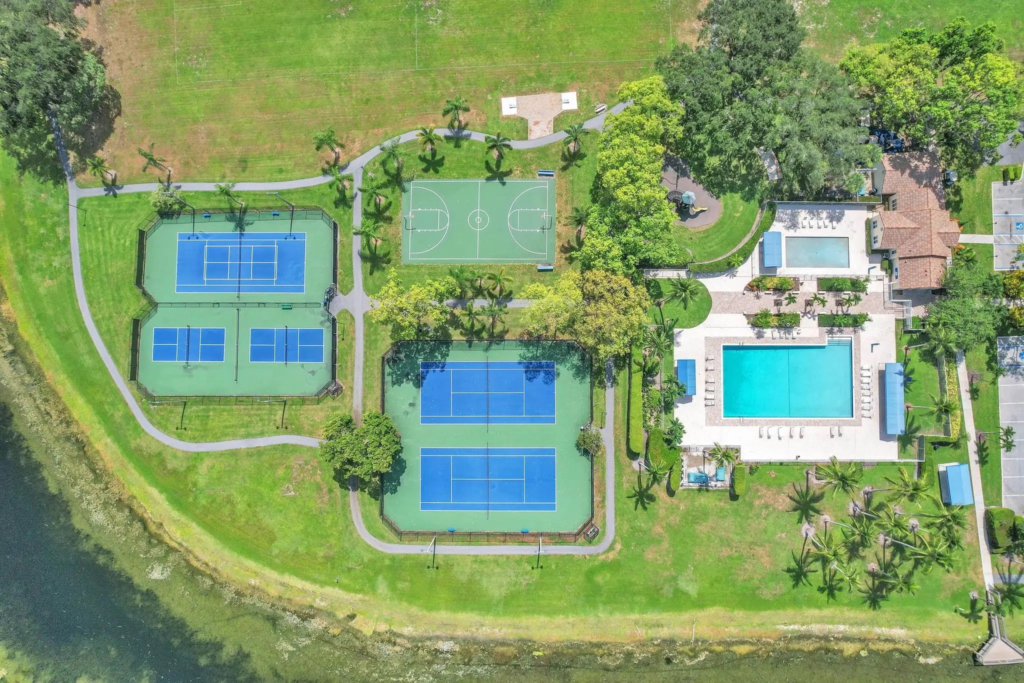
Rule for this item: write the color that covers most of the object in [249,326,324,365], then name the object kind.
blue sports court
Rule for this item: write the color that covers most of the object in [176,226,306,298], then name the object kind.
blue tennis court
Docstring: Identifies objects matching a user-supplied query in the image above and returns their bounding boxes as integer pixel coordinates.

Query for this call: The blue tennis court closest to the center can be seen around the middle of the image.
[420,356,556,430]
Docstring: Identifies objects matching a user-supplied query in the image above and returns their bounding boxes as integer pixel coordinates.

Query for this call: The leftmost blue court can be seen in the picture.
[152,325,225,364]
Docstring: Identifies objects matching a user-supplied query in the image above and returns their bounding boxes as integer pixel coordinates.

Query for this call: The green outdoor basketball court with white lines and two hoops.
[402,179,556,265]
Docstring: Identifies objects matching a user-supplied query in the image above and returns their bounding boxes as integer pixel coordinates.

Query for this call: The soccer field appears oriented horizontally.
[170,0,673,84]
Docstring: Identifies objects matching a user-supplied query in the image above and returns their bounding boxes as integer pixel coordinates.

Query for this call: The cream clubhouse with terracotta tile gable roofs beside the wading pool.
[873,152,963,290]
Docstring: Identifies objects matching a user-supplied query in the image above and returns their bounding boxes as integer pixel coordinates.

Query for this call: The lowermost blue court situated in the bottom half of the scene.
[420,442,556,518]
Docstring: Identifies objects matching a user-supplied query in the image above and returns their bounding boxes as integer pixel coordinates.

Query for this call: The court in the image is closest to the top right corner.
[502,92,578,141]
